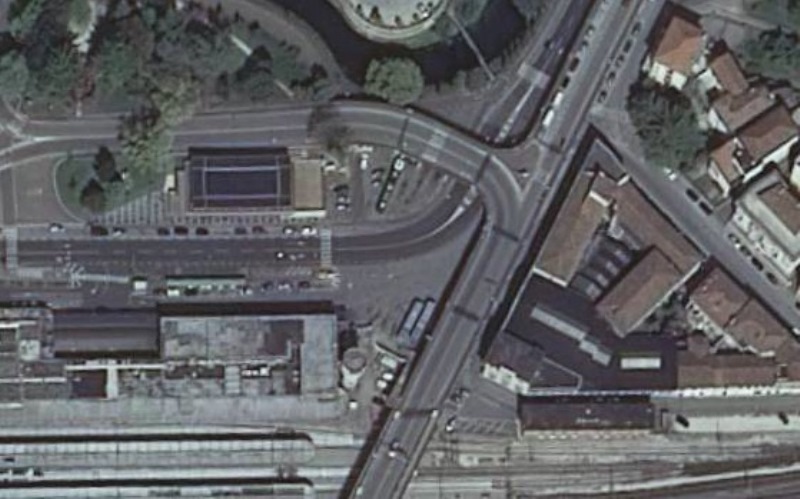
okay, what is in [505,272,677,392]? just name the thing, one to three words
warehouse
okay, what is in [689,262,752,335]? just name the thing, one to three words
house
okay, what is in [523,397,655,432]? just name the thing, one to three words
shed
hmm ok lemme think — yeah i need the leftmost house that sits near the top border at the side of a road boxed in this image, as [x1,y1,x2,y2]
[642,14,708,93]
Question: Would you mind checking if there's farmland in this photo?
No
